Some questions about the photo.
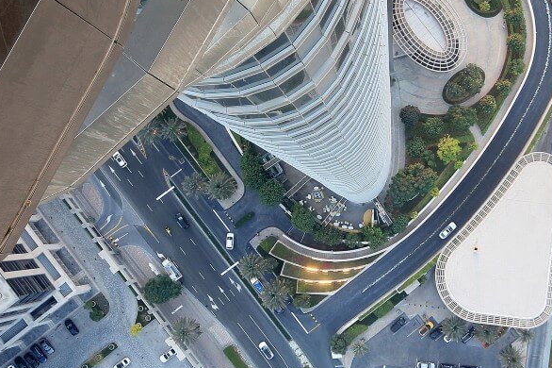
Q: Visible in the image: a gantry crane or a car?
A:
car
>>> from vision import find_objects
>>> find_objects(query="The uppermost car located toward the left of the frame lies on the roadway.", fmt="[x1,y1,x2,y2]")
[113,151,129,169]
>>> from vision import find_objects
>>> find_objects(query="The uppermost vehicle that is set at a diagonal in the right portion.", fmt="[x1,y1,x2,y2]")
[438,220,456,240]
